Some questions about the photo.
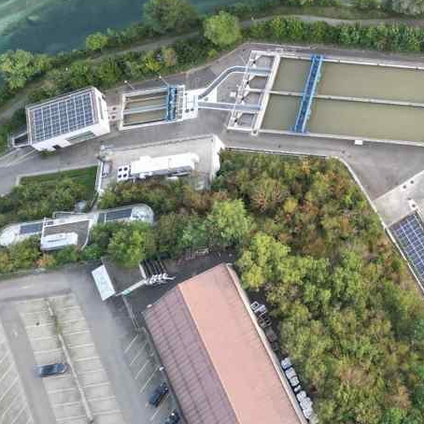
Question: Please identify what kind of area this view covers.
industrial area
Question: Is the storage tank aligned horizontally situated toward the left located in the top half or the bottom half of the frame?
top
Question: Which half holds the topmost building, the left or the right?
left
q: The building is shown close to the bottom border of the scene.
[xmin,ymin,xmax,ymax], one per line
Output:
[142,262,323,424]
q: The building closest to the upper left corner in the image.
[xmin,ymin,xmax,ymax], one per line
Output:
[24,85,110,151]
